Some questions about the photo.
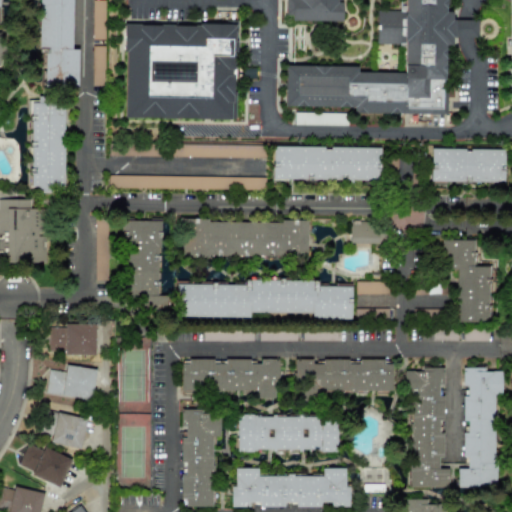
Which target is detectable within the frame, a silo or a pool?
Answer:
pool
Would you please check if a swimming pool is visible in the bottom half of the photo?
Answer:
Yes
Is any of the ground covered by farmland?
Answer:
No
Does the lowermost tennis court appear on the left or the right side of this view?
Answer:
left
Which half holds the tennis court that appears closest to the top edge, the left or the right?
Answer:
left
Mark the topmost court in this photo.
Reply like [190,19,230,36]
[119,347,151,412]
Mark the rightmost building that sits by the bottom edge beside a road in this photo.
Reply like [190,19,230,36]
[460,368,504,488]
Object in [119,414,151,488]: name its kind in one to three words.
tennis court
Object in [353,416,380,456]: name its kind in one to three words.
swimming pool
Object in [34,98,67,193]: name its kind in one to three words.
building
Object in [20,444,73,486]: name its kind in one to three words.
house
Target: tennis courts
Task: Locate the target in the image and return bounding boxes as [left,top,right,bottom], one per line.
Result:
[119,414,151,488]
[119,347,151,412]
